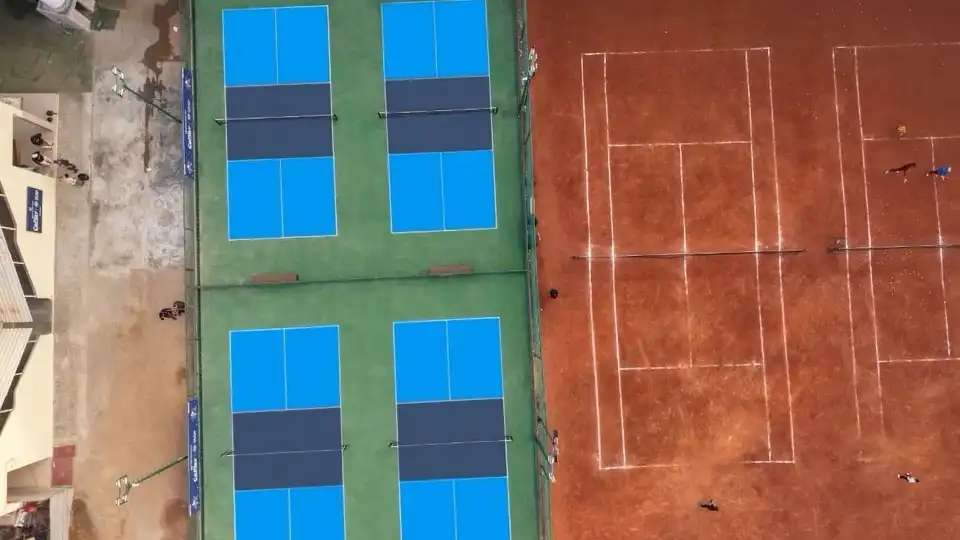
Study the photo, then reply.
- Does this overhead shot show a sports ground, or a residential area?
sports ground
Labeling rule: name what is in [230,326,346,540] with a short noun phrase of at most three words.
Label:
sports court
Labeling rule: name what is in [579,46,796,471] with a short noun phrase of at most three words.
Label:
tennis court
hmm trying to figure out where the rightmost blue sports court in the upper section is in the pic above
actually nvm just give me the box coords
[382,0,498,233]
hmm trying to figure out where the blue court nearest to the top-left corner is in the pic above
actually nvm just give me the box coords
[222,6,337,241]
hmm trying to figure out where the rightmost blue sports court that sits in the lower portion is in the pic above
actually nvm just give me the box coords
[392,318,511,540]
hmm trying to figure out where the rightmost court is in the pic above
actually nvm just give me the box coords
[831,41,960,461]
